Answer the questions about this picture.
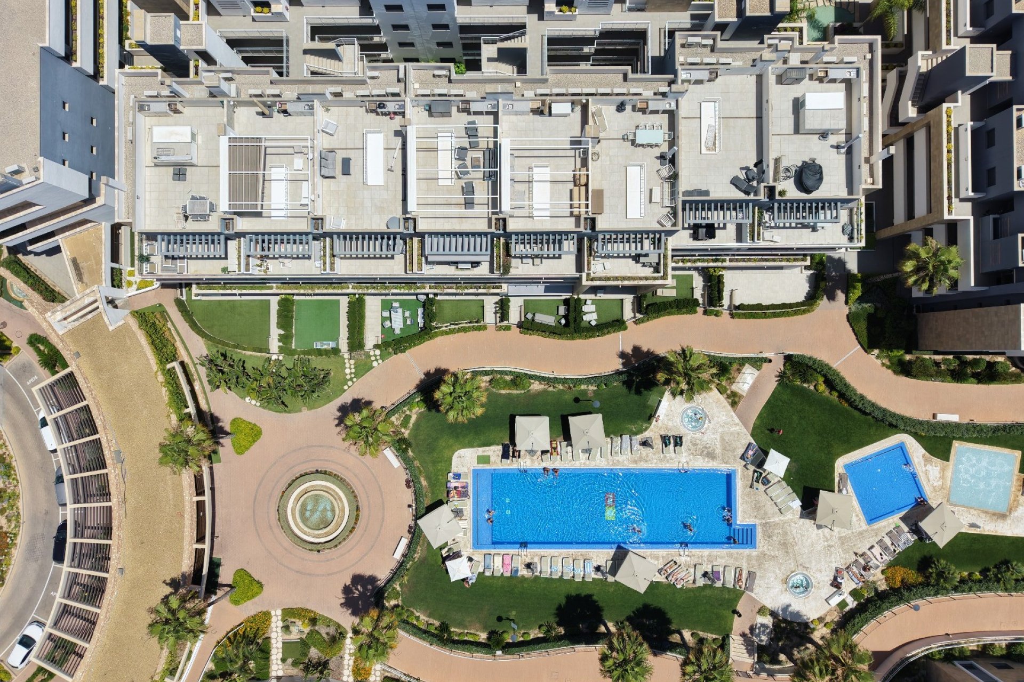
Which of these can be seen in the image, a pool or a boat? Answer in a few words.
pool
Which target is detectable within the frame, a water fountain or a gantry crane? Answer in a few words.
water fountain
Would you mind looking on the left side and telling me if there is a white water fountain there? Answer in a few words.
Yes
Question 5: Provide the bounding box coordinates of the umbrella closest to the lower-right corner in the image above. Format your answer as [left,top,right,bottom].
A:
[905,502,967,550]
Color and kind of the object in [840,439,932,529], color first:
blue swimming pool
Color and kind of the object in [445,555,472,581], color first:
white umbrella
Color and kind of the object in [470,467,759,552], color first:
blue swimming pool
